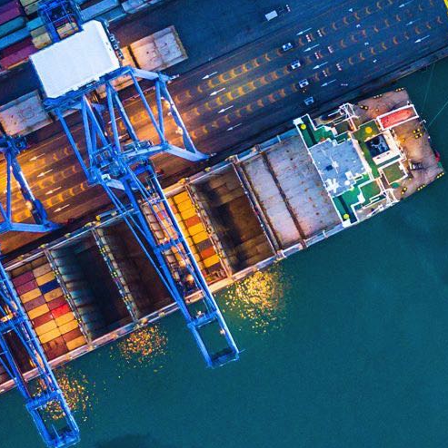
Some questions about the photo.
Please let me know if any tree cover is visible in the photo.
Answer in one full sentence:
No, no tree cover is visible.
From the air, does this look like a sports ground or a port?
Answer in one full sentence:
It's a port.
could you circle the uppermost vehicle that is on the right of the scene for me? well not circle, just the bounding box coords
[263,4,292,21]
